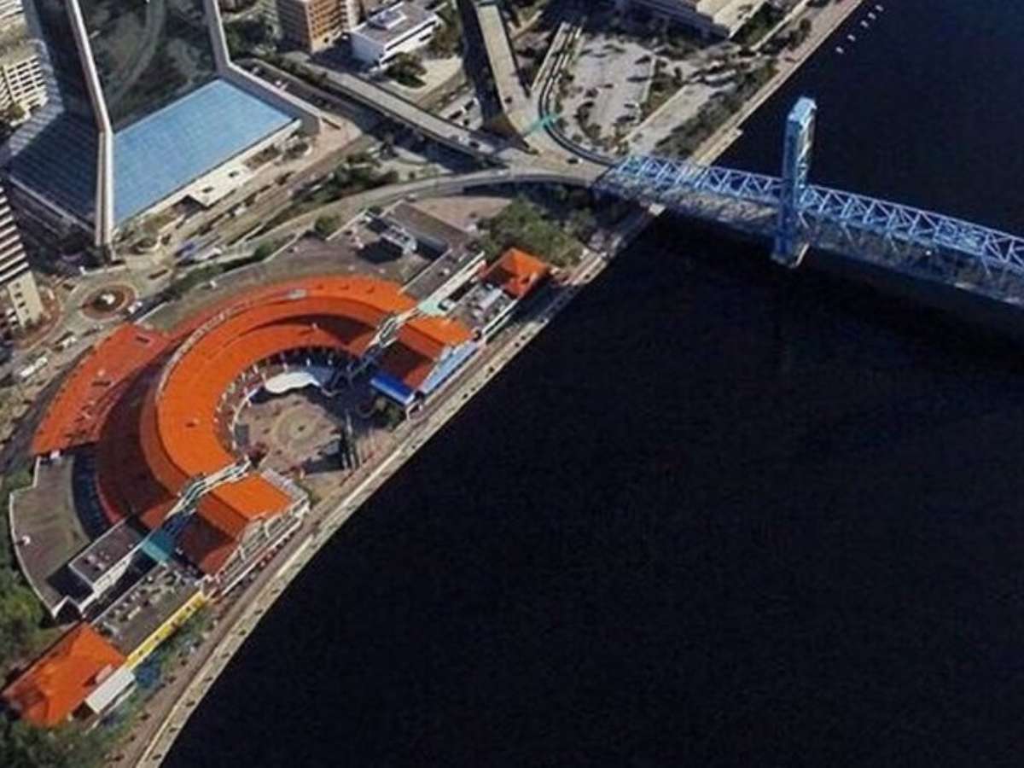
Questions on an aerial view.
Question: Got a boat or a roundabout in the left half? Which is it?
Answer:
roundabout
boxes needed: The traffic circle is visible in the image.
[50,264,166,338]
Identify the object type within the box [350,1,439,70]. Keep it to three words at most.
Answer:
building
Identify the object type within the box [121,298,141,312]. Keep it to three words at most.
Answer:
vehicle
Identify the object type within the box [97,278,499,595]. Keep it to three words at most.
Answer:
building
